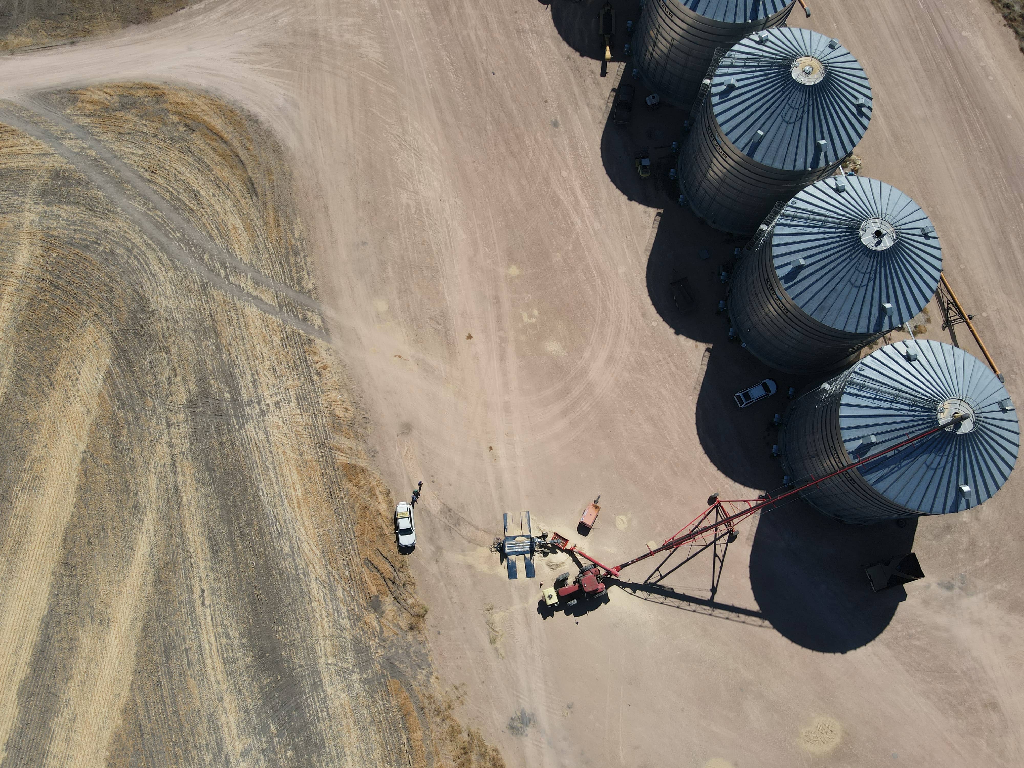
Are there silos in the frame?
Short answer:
Yes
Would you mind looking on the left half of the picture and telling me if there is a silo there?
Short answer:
No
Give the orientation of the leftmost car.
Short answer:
up and down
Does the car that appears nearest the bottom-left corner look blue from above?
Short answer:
No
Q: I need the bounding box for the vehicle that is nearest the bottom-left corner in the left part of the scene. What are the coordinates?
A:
[395,499,416,548]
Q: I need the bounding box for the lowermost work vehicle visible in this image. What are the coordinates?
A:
[542,561,609,609]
